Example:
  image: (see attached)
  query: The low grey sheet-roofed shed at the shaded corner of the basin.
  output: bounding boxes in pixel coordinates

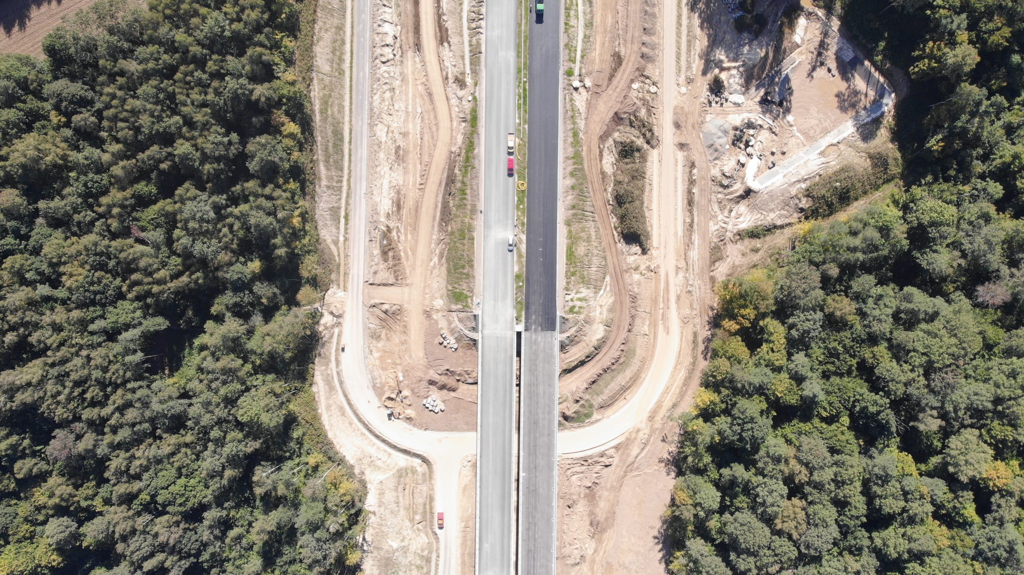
[836,37,863,62]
